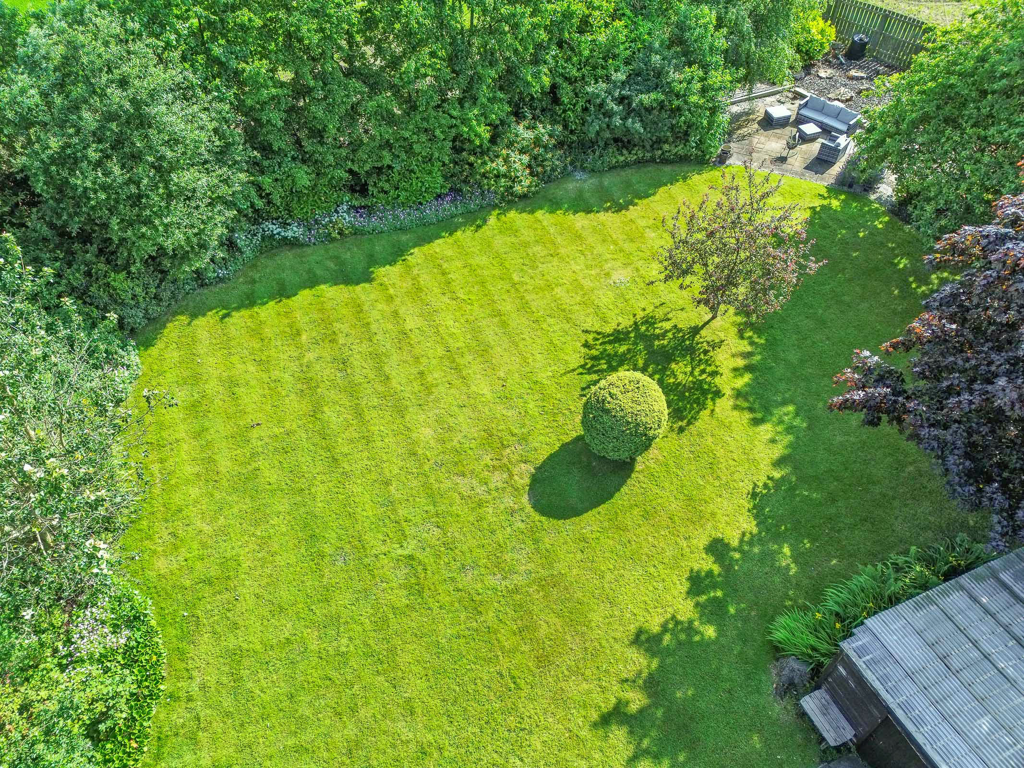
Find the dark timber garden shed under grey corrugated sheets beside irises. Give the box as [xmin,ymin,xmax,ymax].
[813,548,1024,768]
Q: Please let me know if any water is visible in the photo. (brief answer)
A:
No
